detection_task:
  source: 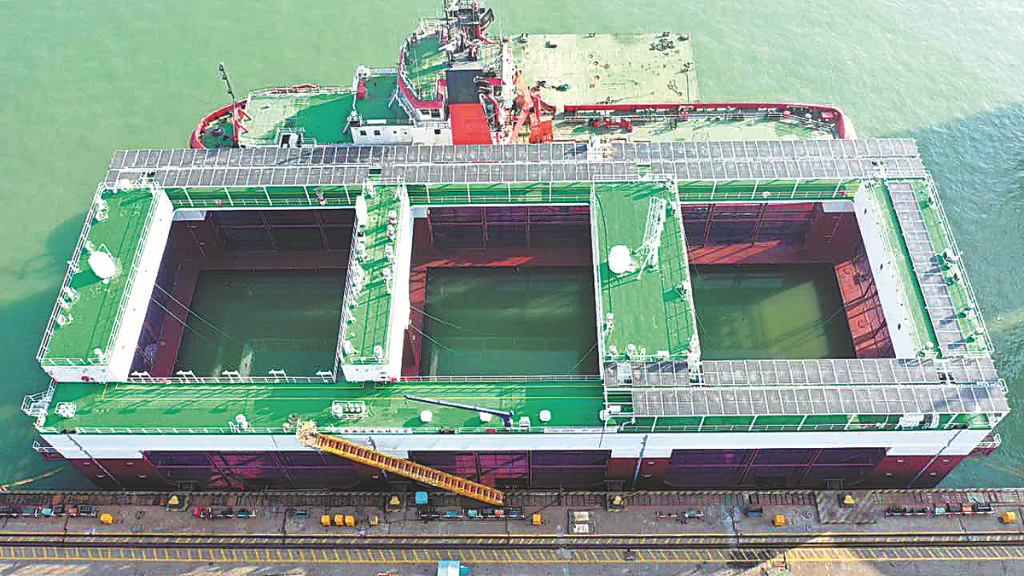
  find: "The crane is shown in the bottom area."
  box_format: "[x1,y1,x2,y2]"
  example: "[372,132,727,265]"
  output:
[406,394,518,431]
